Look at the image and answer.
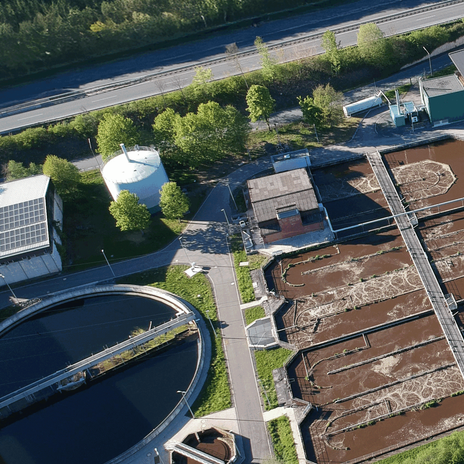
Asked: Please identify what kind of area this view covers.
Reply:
industrial area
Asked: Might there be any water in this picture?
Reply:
Yes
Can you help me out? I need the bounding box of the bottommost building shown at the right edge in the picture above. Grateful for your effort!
[413,74,464,125]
